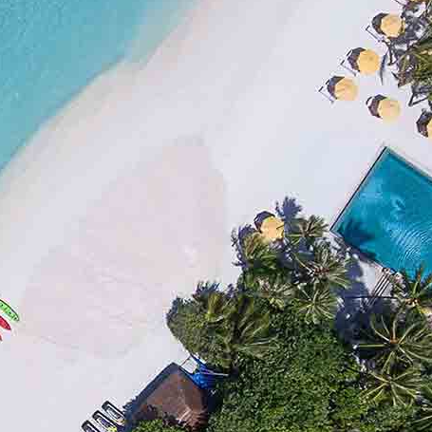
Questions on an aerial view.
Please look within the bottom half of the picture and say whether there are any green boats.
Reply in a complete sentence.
Yes, you'll find a green boat within the bottom half of the picture.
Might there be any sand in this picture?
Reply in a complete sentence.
Yes, there is sand in the image.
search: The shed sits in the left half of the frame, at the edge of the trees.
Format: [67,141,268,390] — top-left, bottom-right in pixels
[130,371,212,432]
